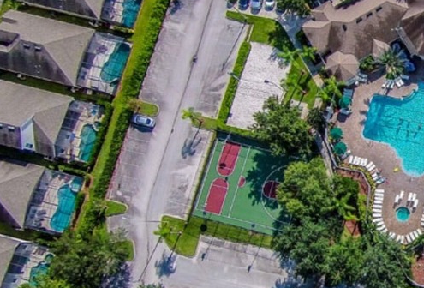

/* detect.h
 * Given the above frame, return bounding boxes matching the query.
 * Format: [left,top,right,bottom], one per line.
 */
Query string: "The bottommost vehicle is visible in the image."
[133,115,154,128]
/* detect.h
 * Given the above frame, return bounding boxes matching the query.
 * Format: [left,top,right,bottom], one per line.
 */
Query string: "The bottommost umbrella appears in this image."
[334,141,348,155]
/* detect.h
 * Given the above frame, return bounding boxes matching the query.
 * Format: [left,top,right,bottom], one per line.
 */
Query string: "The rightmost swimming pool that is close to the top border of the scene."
[121,0,146,27]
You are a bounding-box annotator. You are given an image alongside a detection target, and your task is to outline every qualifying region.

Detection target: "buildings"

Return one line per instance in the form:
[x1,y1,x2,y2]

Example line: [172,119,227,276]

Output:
[0,238,27,288]
[0,11,101,87]
[0,157,51,228]
[303,0,424,60]
[0,80,79,156]
[27,0,113,21]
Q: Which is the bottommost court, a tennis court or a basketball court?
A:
basketball court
